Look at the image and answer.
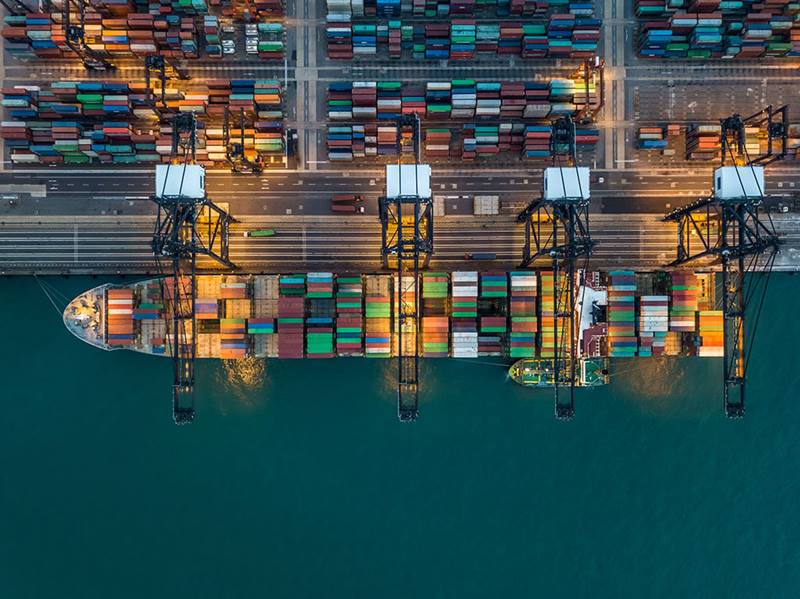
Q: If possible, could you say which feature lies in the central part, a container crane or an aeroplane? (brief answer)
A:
container crane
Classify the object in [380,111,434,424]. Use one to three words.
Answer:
container crane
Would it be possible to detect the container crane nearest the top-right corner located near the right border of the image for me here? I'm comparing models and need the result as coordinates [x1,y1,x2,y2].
[745,106,788,166]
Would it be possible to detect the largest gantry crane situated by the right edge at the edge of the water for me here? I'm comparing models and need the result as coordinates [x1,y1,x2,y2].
[662,111,785,424]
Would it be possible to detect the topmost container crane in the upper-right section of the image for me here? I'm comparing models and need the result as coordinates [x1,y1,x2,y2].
[568,59,604,123]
